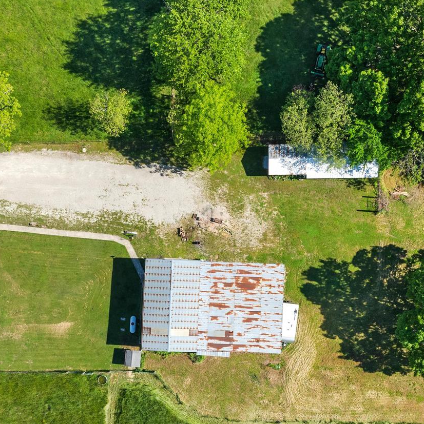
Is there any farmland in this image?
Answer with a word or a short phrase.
Yes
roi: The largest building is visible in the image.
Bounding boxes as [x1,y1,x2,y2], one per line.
[142,259,284,357]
